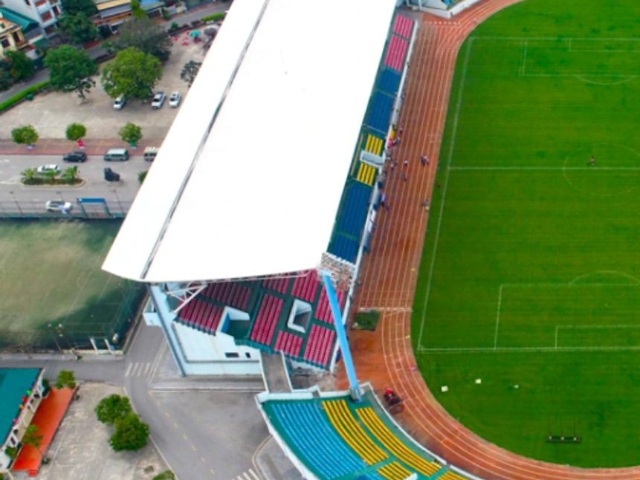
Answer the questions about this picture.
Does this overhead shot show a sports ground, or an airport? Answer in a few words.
sports ground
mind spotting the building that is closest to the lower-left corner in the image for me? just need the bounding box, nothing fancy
[0,357,44,464]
